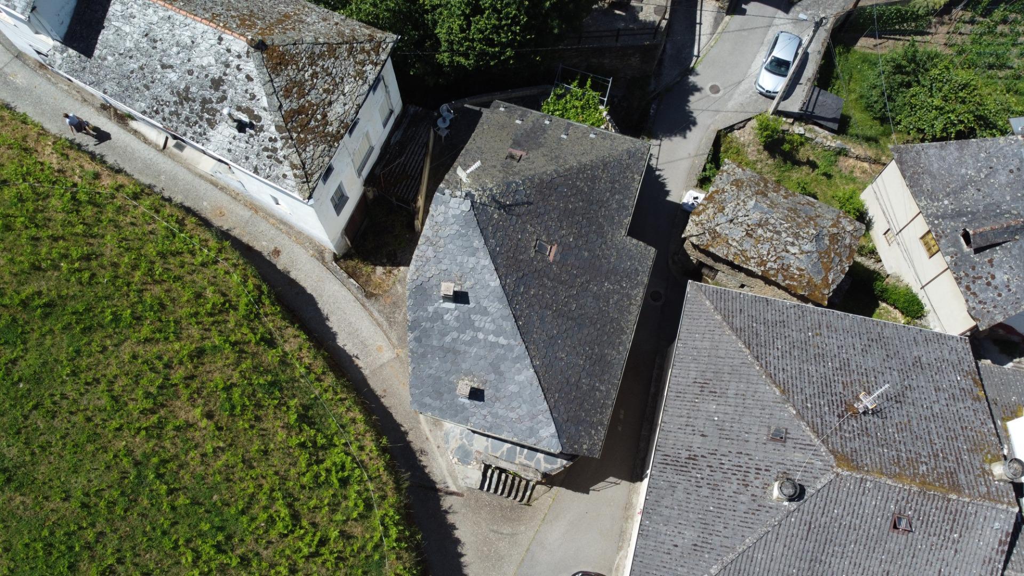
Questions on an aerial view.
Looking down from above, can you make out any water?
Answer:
No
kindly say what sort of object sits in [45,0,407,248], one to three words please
house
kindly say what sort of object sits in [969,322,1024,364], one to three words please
shed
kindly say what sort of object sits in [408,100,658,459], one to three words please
house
